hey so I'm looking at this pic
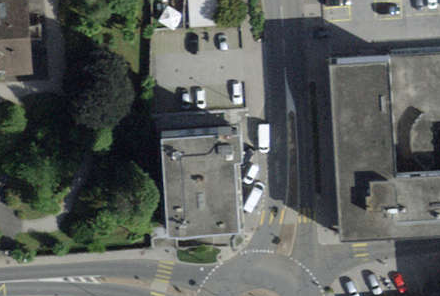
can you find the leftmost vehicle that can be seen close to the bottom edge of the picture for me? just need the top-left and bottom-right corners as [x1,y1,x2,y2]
[345,278,359,296]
